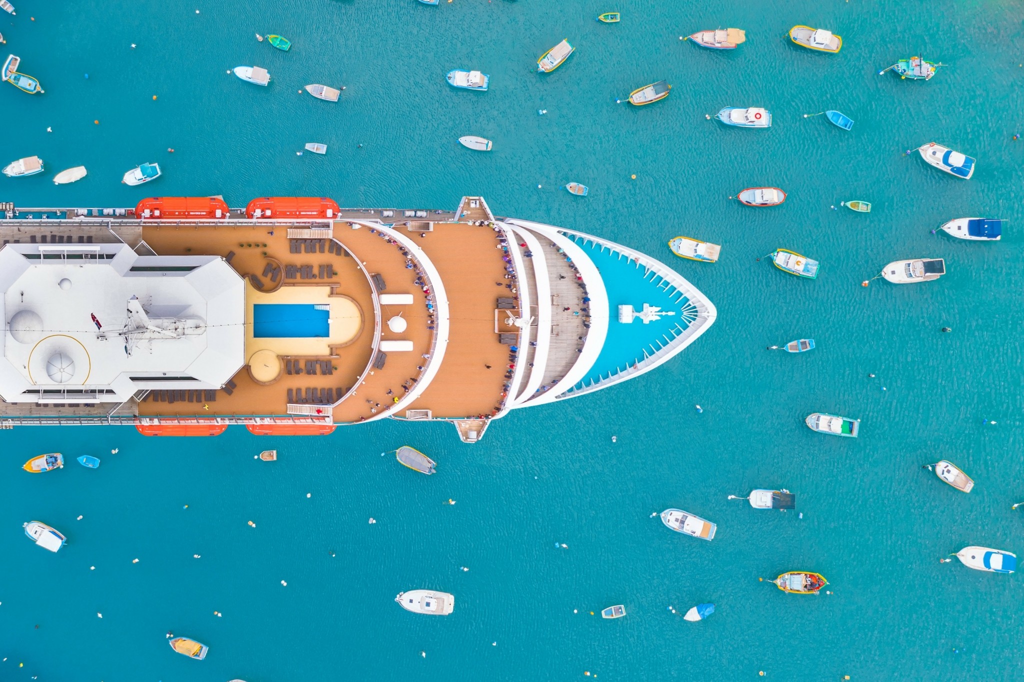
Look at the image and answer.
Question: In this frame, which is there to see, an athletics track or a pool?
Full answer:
Of the two, only a pool appears.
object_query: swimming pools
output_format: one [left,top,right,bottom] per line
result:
[253,304,333,338]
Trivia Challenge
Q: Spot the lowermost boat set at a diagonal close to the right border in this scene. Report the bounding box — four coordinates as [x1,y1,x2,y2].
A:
[930,462,978,494]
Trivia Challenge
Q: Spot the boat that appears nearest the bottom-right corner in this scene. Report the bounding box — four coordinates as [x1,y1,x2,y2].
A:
[950,544,1019,576]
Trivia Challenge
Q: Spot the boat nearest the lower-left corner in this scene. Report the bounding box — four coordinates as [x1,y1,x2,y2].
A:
[23,520,70,554]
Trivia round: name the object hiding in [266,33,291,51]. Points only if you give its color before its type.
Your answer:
green boat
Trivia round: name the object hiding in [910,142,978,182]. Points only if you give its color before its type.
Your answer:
white boat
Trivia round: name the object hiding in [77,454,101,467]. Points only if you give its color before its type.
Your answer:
blue boat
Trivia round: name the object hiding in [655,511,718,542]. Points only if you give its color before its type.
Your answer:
white boat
